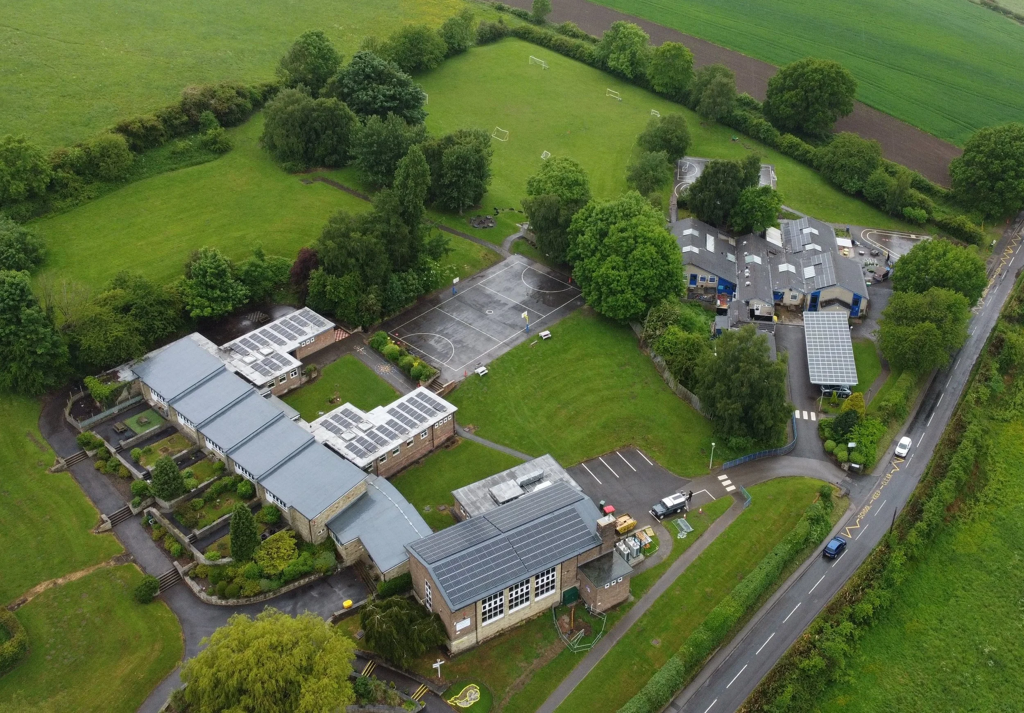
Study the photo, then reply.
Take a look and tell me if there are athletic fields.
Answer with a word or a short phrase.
Yes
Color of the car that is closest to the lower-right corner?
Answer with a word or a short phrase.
blue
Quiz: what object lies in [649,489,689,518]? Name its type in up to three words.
truck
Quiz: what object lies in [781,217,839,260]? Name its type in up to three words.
building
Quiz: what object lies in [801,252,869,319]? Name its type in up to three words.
building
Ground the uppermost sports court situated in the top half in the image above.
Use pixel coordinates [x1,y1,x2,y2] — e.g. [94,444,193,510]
[670,155,715,221]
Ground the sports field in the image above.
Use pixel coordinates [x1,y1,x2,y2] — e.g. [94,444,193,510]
[419,38,907,227]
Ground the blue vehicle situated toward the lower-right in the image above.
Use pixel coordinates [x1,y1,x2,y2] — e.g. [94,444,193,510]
[822,533,847,558]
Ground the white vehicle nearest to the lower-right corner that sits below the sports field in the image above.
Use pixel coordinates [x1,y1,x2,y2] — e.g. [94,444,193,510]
[893,432,915,457]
